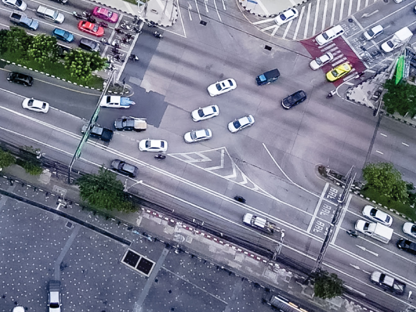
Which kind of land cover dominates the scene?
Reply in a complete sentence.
The largest share of the image is taken up by paved ground.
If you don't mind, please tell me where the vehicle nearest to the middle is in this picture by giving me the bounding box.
[182,128,214,146]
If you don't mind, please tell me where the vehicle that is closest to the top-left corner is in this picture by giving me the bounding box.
[0,0,29,12]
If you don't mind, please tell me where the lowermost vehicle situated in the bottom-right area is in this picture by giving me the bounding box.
[370,269,413,298]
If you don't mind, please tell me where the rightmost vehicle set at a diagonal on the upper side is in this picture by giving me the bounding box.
[380,25,416,53]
